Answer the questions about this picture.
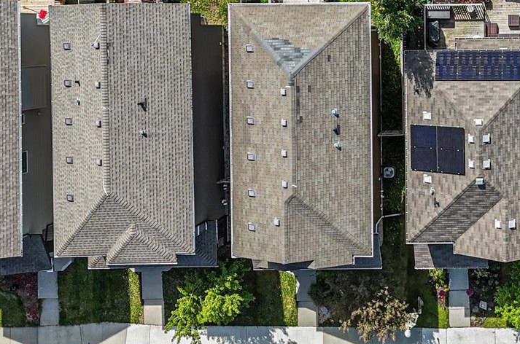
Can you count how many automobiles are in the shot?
0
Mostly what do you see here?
buildings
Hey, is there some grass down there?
Yes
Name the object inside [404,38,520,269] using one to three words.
house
